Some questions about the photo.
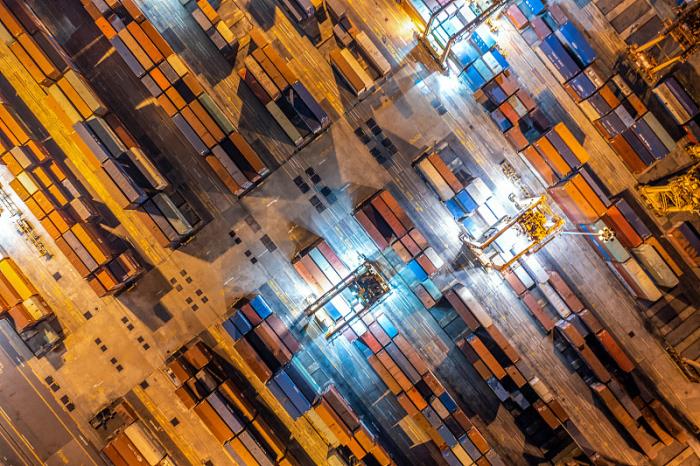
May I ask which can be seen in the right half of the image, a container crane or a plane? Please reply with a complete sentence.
The one visible in the right half of the image is a container crane.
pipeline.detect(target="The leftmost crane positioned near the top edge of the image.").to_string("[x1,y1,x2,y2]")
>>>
[412,0,507,70]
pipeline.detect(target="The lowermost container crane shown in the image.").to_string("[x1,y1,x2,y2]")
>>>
[302,251,395,341]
